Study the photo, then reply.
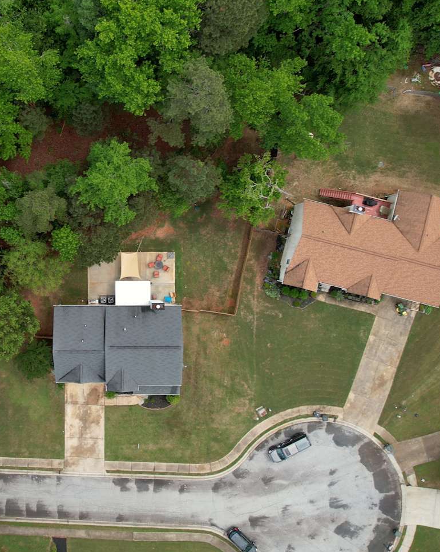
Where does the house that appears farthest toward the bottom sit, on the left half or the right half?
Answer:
left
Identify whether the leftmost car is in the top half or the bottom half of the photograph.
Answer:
bottom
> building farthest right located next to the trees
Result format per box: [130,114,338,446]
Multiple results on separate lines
[280,190,440,310]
